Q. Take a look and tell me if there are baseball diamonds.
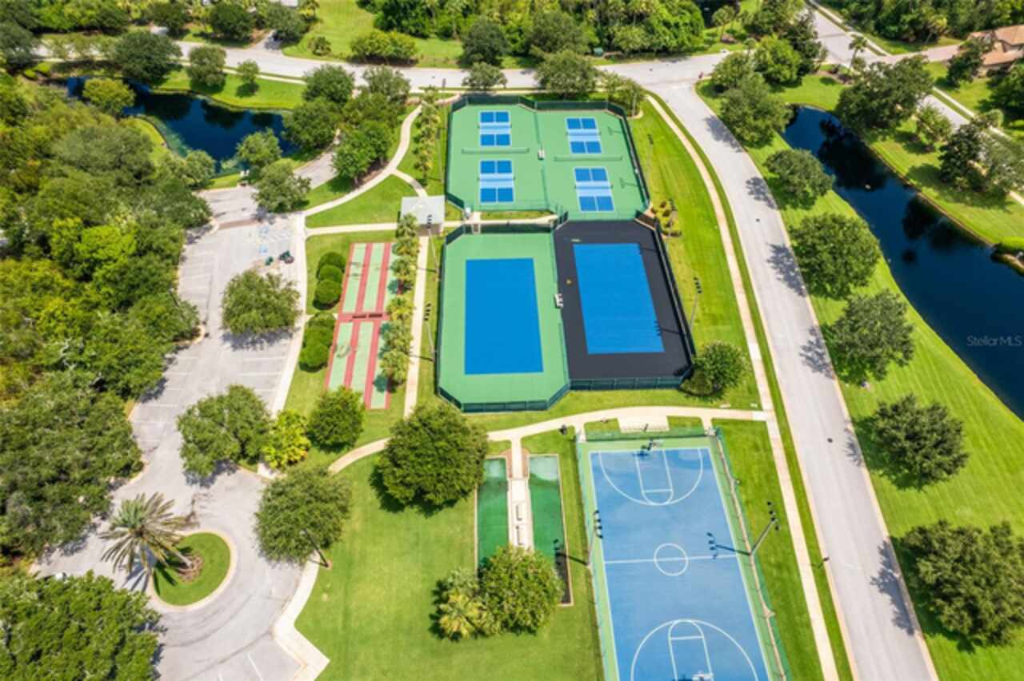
No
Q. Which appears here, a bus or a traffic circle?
traffic circle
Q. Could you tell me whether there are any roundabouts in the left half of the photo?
Yes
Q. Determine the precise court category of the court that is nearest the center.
tennis court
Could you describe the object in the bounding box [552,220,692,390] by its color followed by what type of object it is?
blue tennis court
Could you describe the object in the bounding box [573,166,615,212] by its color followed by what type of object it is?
blue sports court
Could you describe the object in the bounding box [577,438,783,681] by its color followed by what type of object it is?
blue basketball court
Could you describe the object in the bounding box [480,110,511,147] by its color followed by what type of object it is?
blue sports court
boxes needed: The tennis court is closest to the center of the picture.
[439,232,569,412]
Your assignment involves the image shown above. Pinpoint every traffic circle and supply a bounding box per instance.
[148,529,236,612]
